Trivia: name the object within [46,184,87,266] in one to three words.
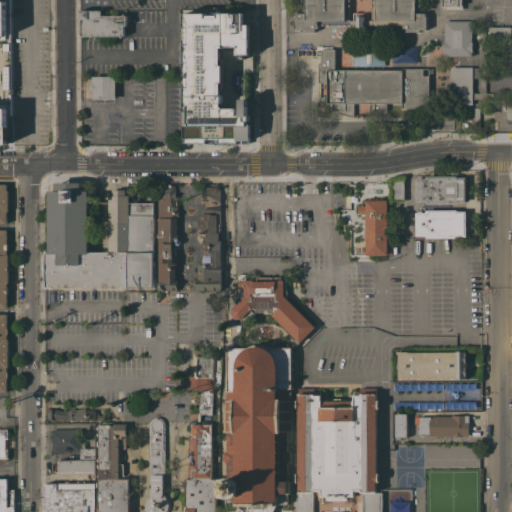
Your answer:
building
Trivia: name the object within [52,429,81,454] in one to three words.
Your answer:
house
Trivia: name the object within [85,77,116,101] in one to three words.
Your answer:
house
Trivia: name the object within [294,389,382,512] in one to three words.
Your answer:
building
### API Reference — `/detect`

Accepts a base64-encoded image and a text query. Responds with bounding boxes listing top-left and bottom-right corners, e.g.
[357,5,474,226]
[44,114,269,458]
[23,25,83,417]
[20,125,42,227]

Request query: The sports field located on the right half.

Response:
[428,470,482,512]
